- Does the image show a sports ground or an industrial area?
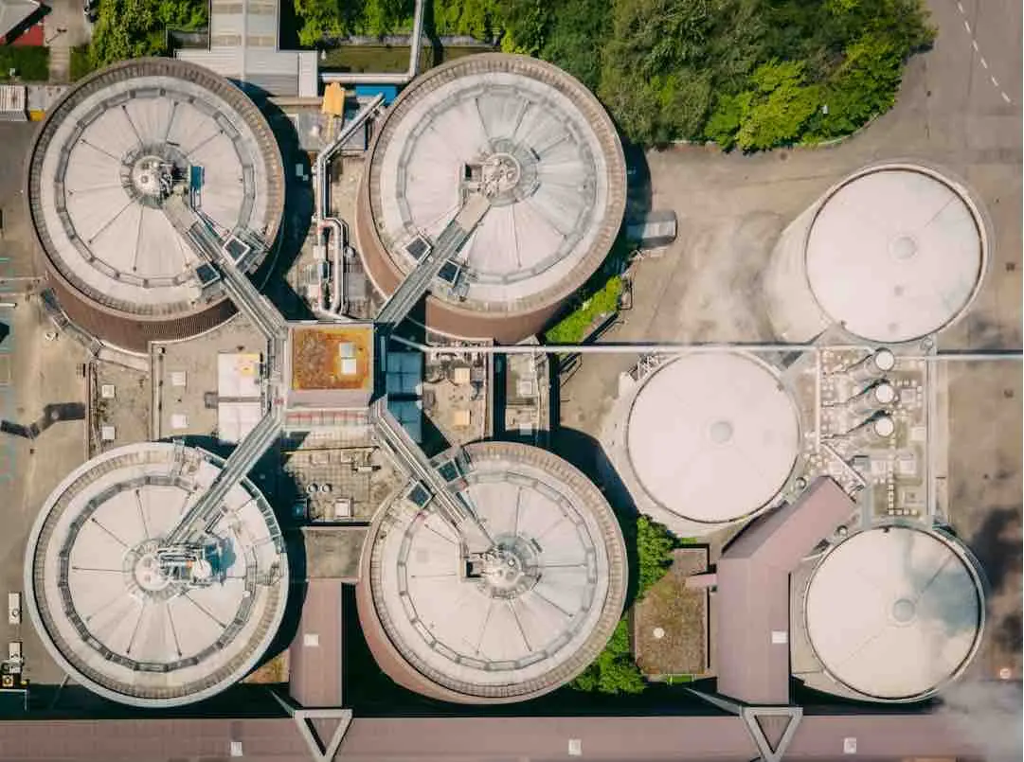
industrial area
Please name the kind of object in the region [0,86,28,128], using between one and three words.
shed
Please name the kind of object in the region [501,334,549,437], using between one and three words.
building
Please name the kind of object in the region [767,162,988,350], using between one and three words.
silo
